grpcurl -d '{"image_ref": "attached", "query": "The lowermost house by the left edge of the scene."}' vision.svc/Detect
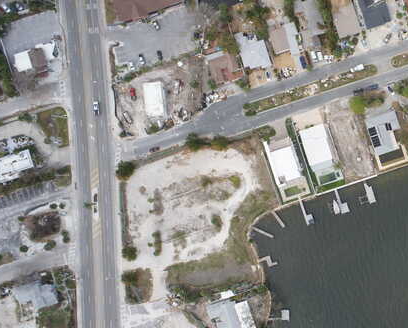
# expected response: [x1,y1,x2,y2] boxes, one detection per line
[14,281,61,309]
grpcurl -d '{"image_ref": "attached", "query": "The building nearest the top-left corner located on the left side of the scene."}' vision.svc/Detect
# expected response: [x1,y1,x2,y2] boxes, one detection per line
[14,43,58,73]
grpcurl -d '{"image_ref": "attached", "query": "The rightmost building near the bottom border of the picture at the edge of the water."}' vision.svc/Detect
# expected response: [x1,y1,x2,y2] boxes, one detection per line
[208,291,257,328]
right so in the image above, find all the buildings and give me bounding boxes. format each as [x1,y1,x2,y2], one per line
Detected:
[366,112,400,155]
[270,24,301,56]
[208,291,257,328]
[238,32,271,69]
[0,150,37,180]
[111,0,187,25]
[14,281,61,309]
[330,0,357,38]
[14,43,58,73]
[204,51,245,84]
[359,0,391,29]
[301,125,333,167]
[143,80,166,117]
[295,0,326,36]
[271,146,303,185]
